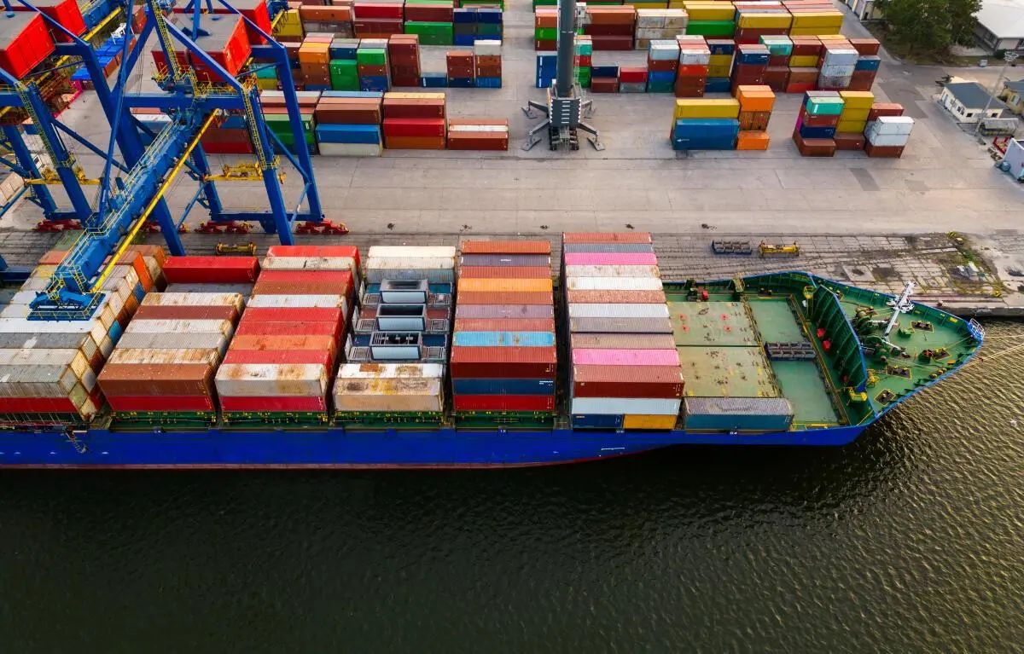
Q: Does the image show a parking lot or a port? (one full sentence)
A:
It's a port.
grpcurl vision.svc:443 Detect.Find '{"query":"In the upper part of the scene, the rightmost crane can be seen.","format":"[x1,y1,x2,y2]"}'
[521,0,605,149]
